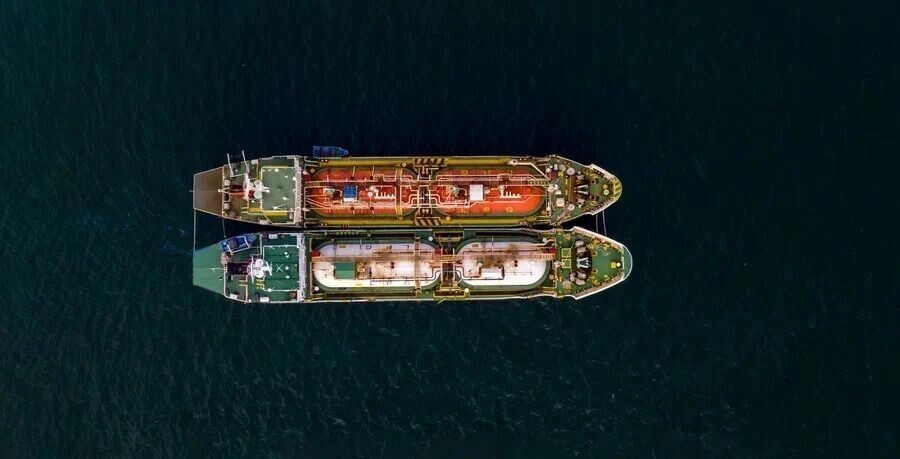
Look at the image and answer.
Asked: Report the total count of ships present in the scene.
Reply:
2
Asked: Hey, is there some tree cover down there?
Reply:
No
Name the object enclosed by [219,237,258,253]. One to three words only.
boat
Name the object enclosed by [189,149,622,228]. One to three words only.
ship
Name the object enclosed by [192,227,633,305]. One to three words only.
ship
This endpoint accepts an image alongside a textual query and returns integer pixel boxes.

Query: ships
[189,149,622,228]
[192,227,633,305]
